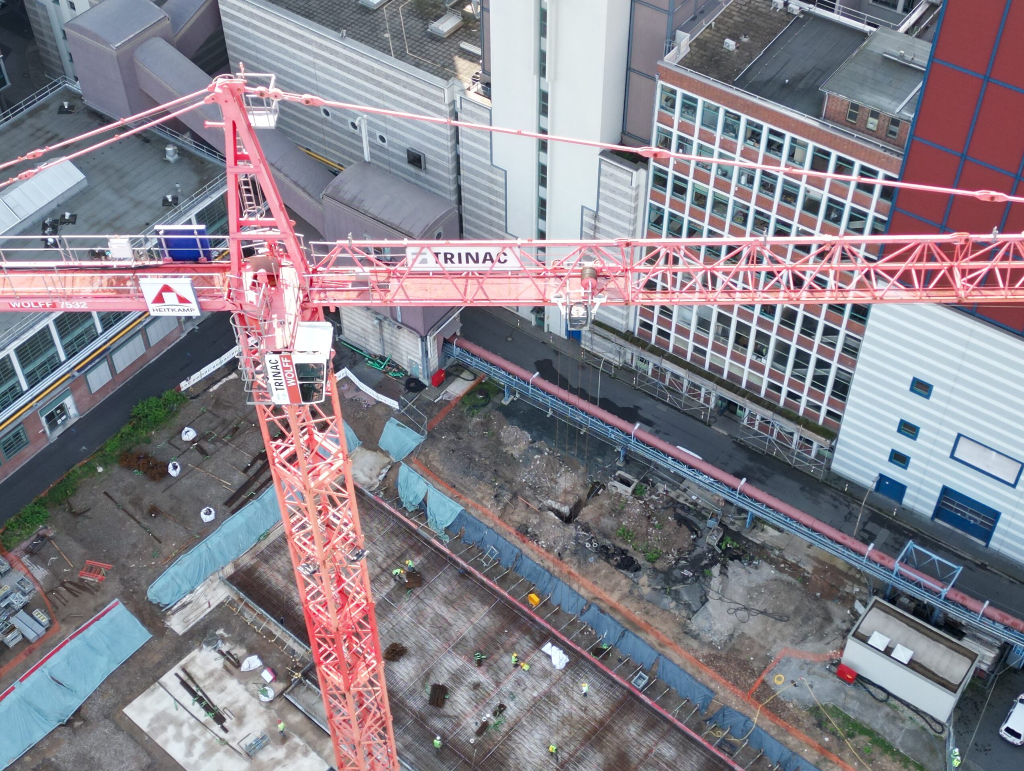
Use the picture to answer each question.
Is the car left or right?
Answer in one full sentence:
The car sits on the right side.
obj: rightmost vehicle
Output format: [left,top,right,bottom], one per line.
[999,683,1024,743]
